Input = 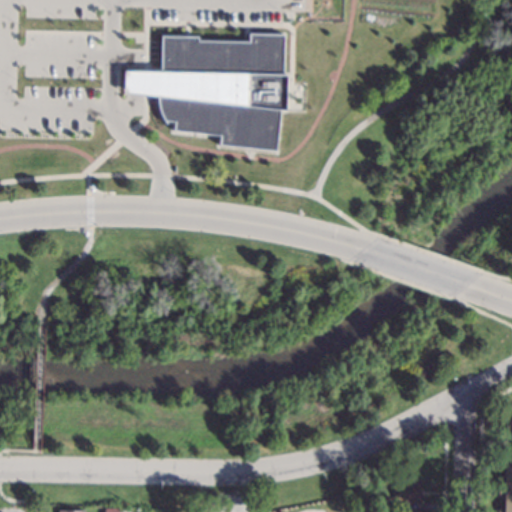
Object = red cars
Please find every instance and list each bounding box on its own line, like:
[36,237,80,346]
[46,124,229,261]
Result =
[88,87,94,100]
[269,11,275,24]
[276,12,281,24]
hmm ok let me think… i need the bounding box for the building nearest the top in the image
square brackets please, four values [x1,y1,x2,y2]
[124,34,288,150]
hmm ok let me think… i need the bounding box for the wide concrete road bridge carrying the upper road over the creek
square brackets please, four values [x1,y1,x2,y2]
[352,231,484,303]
